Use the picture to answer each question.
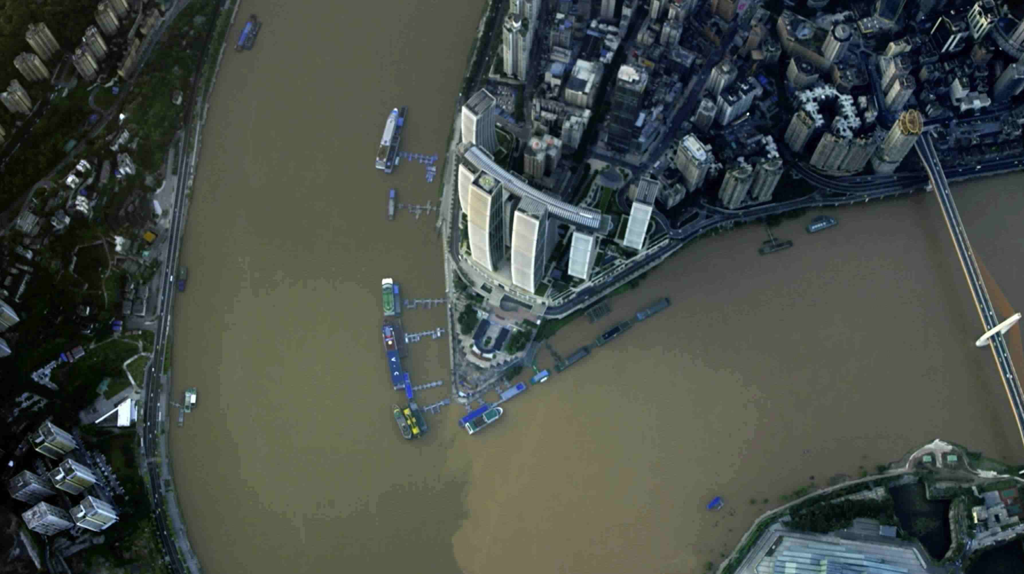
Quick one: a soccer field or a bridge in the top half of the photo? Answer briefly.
bridge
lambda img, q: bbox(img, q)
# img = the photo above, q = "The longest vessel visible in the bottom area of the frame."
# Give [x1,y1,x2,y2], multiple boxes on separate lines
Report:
[383,325,405,391]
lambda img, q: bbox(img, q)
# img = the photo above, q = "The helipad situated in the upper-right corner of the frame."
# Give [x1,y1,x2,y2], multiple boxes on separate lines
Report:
[835,26,849,38]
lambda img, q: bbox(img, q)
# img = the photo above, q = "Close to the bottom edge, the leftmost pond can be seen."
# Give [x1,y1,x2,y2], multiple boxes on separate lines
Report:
[890,483,951,559]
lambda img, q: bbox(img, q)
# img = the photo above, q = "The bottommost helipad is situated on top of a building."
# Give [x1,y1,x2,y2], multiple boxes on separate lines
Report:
[478,176,496,192]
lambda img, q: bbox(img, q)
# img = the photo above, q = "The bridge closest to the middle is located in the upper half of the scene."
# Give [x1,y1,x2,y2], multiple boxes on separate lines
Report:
[460,148,612,237]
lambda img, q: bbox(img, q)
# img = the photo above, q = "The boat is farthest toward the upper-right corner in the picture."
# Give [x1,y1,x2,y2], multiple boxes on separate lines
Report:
[805,216,838,233]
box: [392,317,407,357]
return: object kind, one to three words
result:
pier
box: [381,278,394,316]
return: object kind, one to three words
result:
ship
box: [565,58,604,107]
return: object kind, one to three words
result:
building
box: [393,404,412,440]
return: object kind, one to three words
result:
ship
